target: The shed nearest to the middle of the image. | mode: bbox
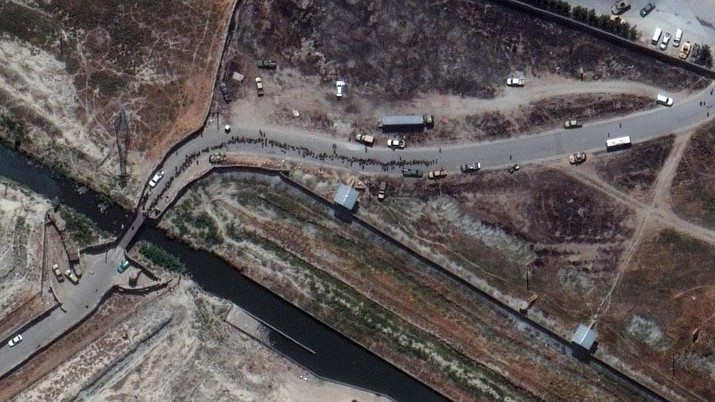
[332,184,361,213]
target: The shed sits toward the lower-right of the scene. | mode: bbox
[571,325,600,353]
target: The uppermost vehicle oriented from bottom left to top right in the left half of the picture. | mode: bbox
[148,170,164,188]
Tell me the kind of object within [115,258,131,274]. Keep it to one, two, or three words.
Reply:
vehicle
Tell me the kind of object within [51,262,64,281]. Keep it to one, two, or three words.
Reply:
vehicle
